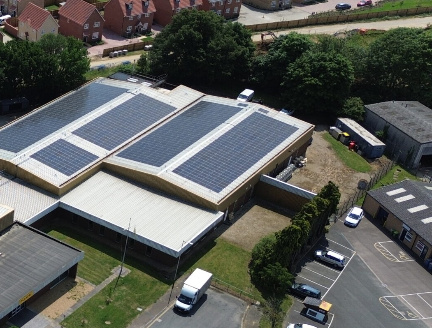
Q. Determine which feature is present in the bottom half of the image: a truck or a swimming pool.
truck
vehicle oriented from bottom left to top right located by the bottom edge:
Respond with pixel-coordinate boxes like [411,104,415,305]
[173,267,213,315]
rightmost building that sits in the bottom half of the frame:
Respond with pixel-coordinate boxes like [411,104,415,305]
[363,176,432,258]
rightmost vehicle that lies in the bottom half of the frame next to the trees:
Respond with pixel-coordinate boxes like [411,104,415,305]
[345,209,364,227]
